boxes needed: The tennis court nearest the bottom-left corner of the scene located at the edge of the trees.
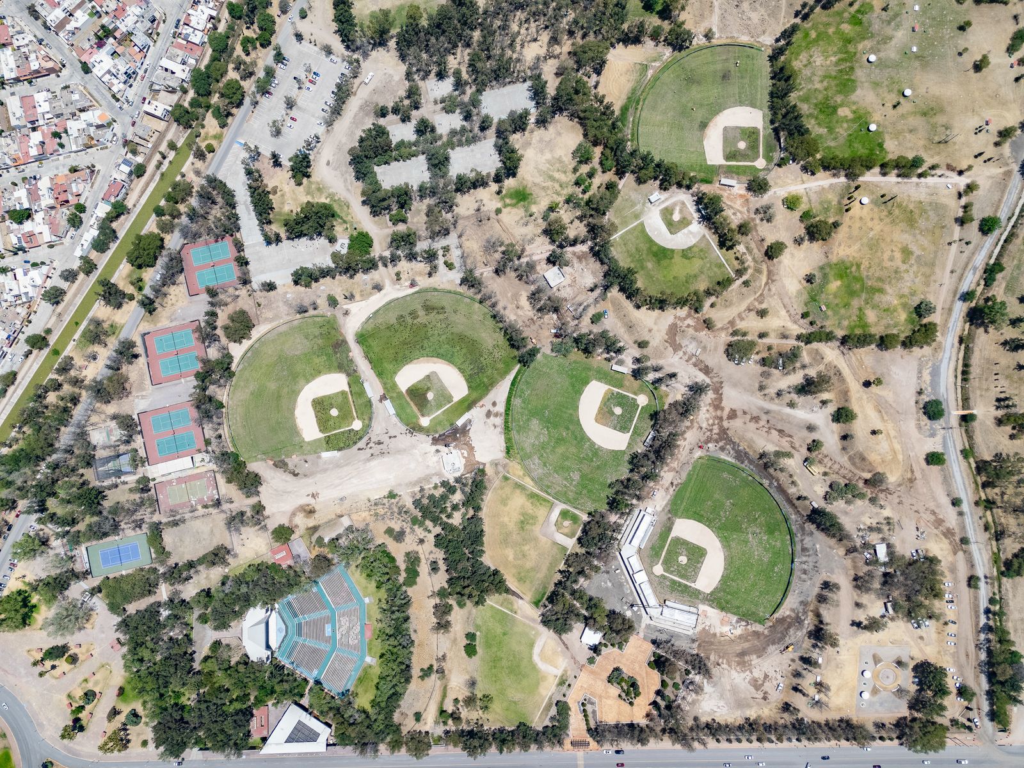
[84,533,151,579]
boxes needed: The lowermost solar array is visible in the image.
[285,720,321,743]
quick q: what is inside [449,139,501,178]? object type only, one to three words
sports court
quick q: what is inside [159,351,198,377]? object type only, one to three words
tennis court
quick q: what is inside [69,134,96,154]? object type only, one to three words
house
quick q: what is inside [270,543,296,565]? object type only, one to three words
building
